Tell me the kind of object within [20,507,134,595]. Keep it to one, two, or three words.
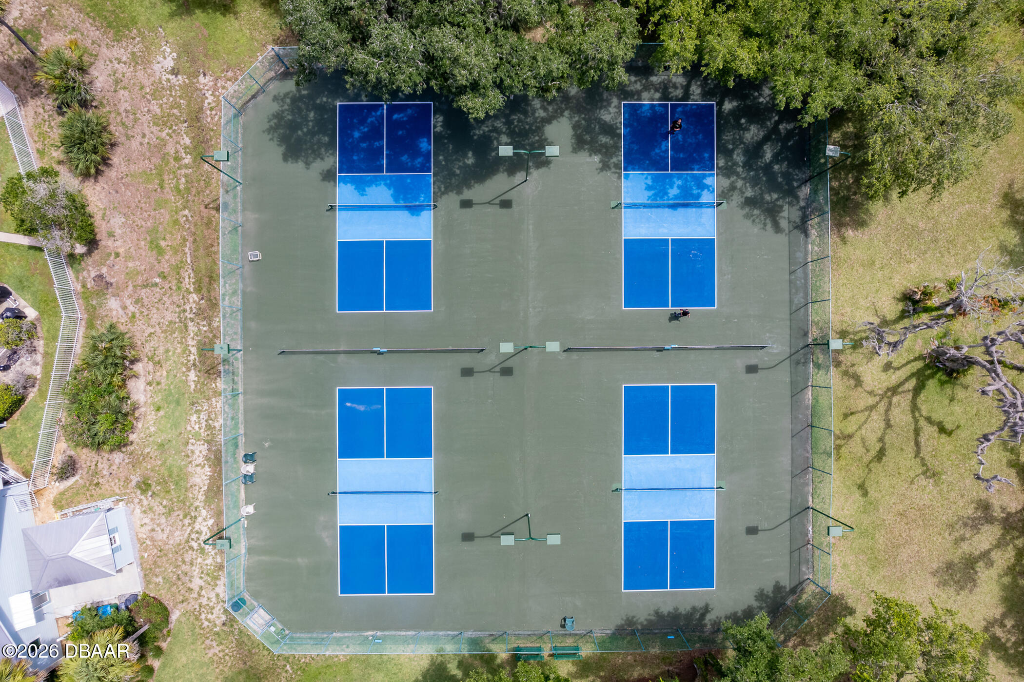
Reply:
house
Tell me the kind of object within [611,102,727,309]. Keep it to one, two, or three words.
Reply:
sports court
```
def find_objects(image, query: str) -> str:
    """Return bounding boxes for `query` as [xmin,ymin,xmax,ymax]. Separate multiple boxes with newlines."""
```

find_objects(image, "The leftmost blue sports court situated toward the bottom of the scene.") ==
[337,387,434,595]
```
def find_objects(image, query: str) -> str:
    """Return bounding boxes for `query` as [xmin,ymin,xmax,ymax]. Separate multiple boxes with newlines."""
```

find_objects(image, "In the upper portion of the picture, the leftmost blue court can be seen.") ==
[337,102,433,312]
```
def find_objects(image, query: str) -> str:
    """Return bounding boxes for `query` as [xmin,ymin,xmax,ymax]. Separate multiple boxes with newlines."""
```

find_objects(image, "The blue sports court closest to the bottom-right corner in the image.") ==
[612,384,725,591]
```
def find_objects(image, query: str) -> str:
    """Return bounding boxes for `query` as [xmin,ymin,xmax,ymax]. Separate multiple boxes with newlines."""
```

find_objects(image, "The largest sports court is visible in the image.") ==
[237,71,813,636]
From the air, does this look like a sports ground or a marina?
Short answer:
sports ground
